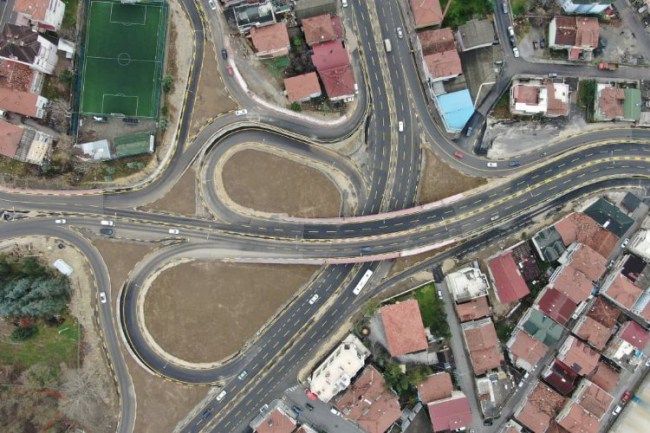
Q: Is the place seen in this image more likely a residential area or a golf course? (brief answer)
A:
residential area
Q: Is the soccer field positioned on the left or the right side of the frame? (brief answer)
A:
left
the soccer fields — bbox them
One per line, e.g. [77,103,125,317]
[79,0,162,121]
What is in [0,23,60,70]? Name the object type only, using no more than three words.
house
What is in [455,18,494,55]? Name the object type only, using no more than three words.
shed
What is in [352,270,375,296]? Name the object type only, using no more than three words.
bus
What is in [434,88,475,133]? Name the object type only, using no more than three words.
building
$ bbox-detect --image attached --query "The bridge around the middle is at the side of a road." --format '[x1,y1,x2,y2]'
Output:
[230,190,470,268]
